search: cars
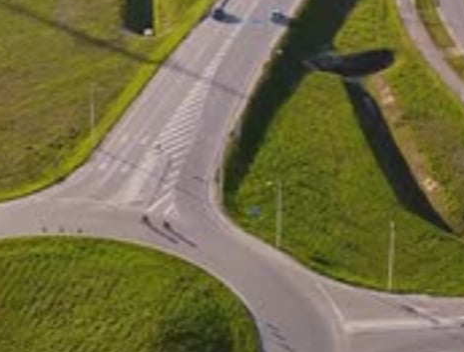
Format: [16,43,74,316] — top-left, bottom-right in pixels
[212,7,227,19]
[271,9,285,20]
